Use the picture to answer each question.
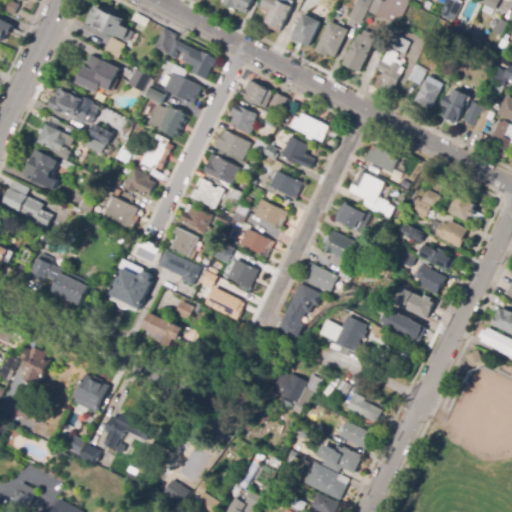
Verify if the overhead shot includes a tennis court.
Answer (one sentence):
No, the frame has no tennis court in it.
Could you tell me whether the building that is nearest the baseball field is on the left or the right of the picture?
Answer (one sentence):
You can find the building that is nearest the baseball field on the right side of the picture.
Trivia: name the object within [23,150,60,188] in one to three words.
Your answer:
house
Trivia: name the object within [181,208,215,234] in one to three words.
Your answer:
house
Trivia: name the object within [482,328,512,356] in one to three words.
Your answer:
building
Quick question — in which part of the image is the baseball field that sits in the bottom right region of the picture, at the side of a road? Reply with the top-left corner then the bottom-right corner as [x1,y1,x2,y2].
[416,368,512,512]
